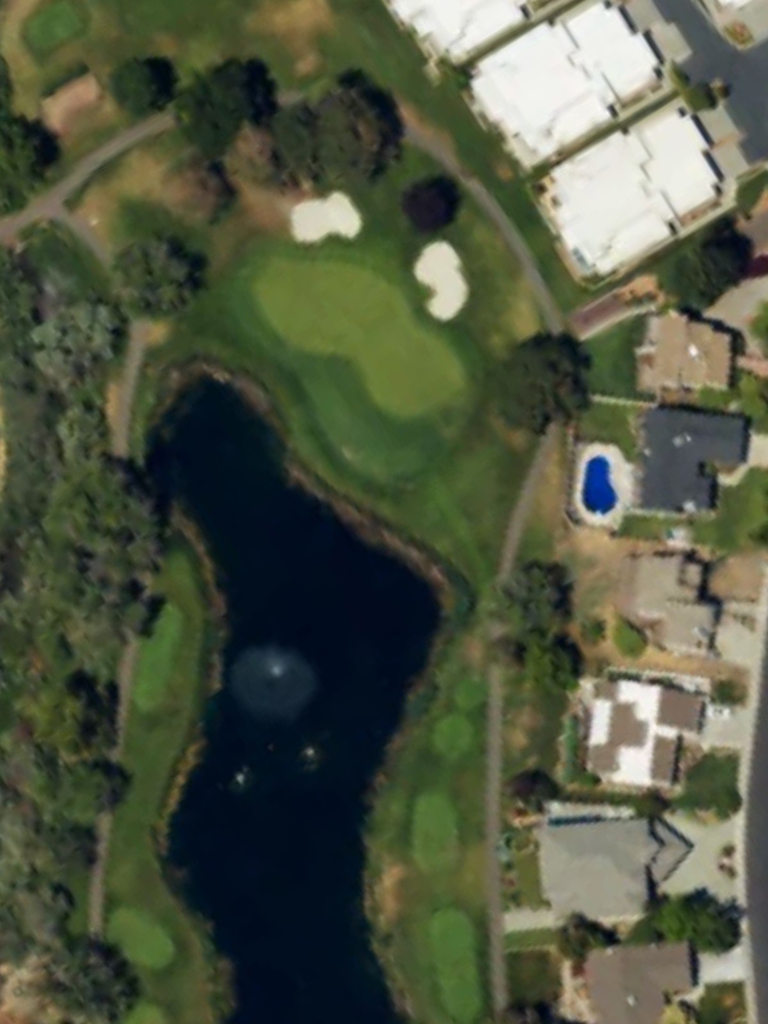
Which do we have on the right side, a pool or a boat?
pool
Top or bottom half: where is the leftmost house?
top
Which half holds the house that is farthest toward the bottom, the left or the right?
right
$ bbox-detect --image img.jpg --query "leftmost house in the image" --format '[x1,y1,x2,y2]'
[392,0,534,58]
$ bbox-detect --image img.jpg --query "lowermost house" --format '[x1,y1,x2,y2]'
[587,946,695,1024]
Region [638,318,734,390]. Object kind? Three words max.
house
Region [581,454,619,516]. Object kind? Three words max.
swimming pool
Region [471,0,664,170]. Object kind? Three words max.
house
